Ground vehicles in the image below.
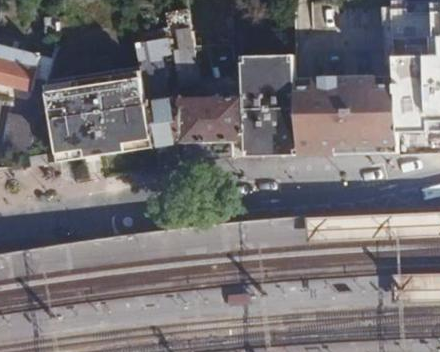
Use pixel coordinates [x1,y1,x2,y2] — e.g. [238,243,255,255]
[399,160,422,172]
[420,184,440,201]
[324,8,334,29]
[362,168,383,179]
[234,184,255,194]
[256,181,278,192]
